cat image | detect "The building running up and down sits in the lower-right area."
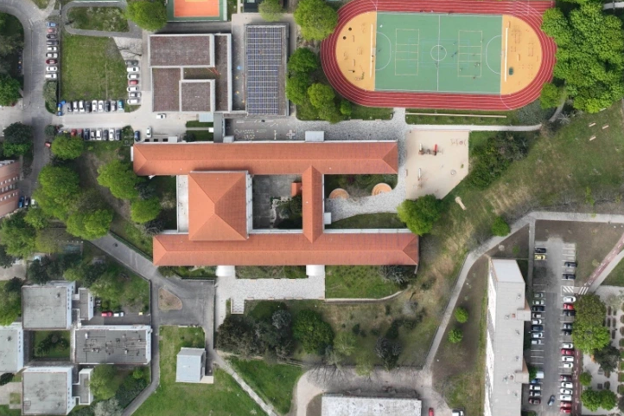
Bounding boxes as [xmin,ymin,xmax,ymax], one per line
[482,260,531,416]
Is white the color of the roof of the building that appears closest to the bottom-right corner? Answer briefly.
Yes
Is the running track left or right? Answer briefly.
right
